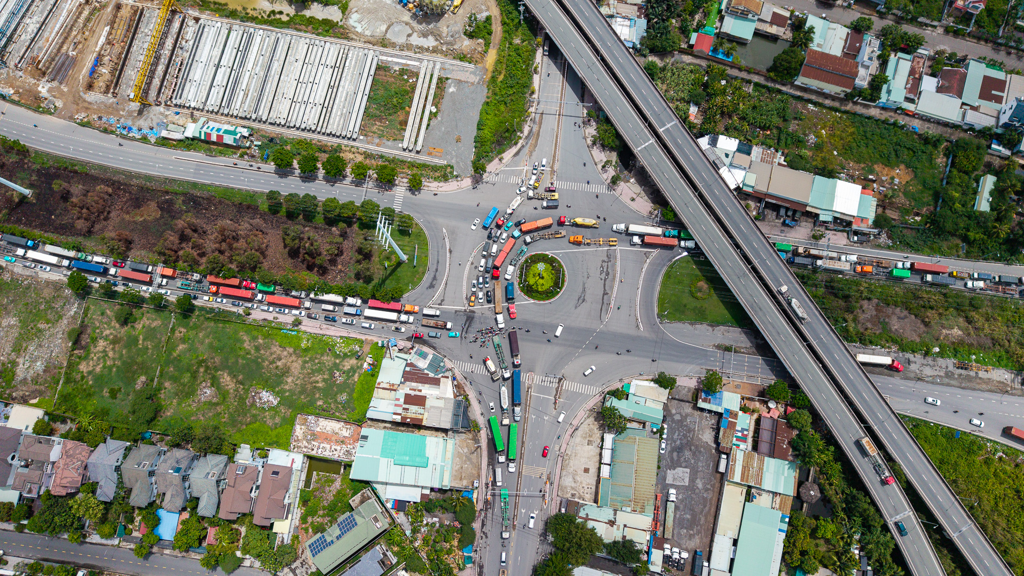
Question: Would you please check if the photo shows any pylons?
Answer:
Yes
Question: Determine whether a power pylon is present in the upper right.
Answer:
No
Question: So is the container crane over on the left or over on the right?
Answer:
left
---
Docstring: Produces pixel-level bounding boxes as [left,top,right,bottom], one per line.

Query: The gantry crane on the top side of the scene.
[129,0,191,112]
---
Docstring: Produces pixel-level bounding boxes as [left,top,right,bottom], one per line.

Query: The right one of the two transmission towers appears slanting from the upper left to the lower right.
[378,214,411,266]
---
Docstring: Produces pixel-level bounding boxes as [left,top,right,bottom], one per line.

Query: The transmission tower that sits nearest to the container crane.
[0,177,36,199]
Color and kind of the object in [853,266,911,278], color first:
green vehicle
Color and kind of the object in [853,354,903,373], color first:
white vehicle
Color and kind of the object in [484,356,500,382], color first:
white vehicle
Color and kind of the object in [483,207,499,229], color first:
blue vehicle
